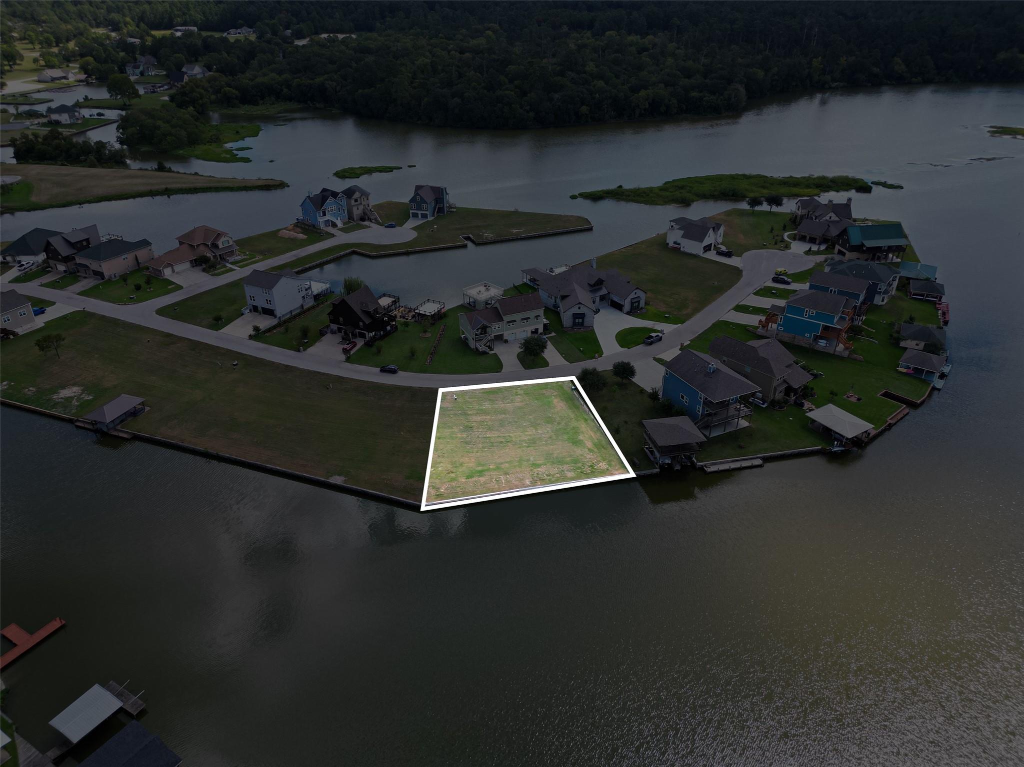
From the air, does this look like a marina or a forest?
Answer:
marina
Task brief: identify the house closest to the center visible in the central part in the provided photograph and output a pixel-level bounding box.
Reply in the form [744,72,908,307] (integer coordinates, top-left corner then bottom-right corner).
[457,289,549,358]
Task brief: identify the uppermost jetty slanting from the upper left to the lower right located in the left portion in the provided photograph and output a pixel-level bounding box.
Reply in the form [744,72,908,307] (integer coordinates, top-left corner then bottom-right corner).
[106,679,148,719]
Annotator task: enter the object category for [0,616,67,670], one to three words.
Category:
pier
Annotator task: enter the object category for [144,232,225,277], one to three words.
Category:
house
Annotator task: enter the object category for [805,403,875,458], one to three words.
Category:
building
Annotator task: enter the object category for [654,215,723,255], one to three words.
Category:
house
